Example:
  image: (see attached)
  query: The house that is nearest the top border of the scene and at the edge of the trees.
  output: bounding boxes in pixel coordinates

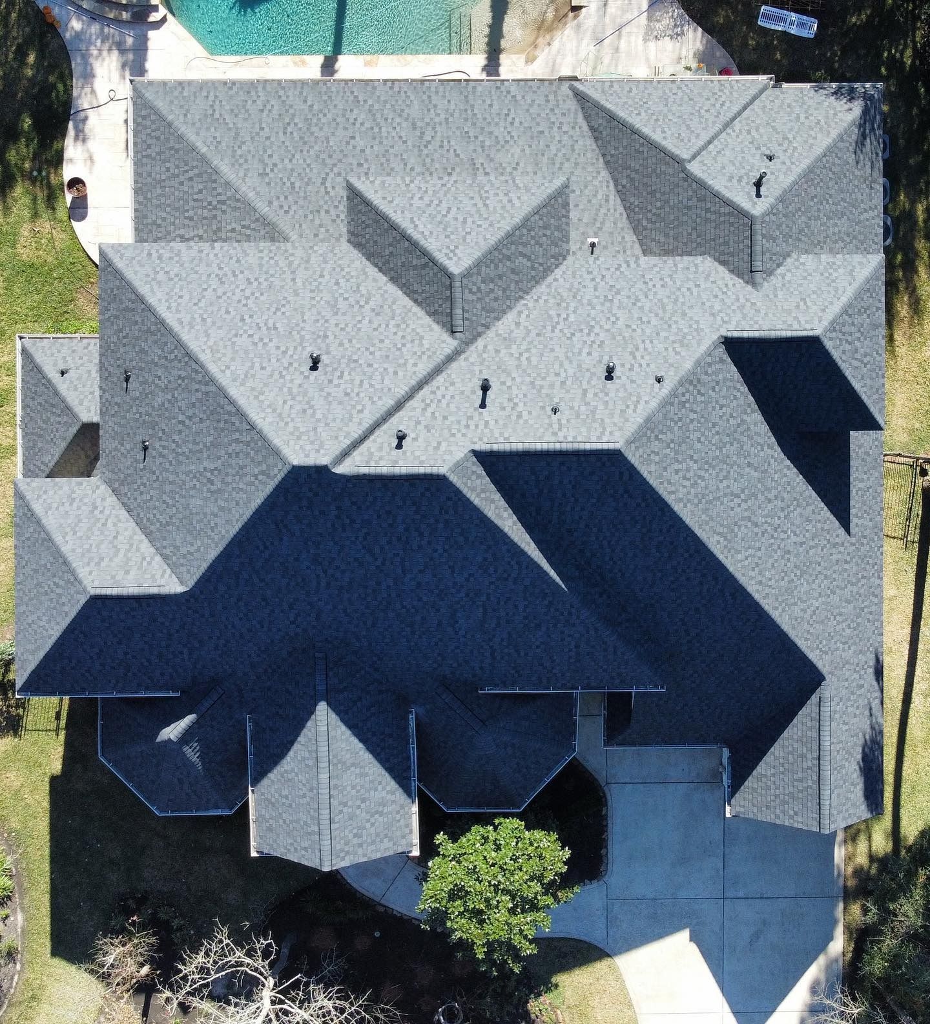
[13,74,886,872]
